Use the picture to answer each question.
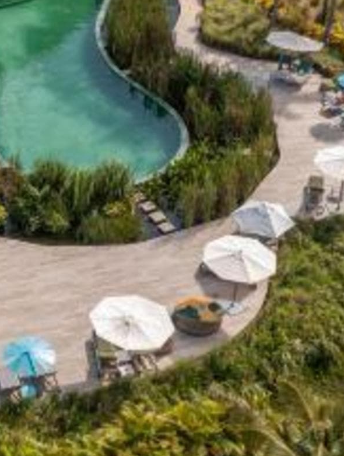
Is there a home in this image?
No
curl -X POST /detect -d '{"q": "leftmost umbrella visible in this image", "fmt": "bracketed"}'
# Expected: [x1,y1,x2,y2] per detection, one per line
[1,342,56,410]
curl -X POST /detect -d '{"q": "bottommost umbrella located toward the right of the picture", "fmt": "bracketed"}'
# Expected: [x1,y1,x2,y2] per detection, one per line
[202,237,279,314]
